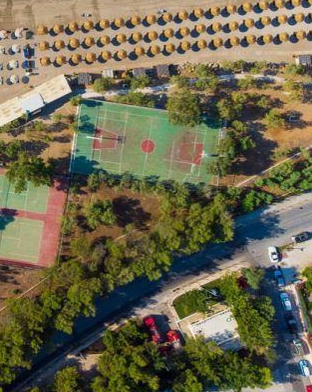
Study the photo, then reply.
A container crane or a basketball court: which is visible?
basketball court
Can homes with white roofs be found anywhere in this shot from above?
Yes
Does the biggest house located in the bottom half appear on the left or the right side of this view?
right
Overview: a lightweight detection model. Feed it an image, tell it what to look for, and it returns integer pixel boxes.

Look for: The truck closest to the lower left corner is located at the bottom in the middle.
[140,315,162,344]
